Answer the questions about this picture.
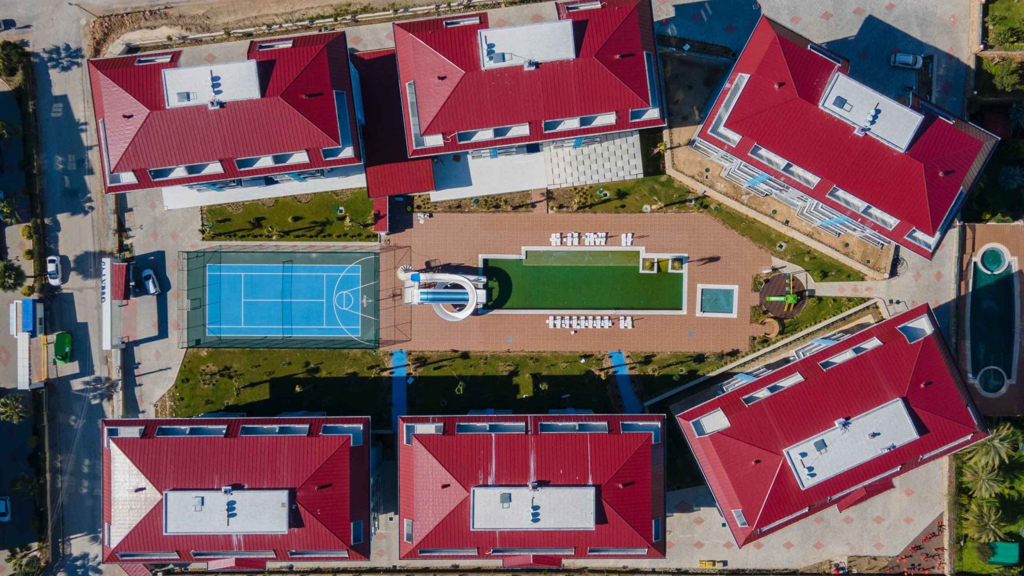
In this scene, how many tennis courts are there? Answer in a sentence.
Just 1 tennis court appears in this view.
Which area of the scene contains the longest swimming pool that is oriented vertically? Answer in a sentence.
Look in the right portion of the view to spot the longest swimming pool that is oriented vertically.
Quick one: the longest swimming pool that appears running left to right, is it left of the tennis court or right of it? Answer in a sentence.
The longest swimming pool that appears running left to right can be seen on the right of the tennis court.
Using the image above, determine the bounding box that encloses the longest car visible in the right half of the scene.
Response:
[890,54,923,69]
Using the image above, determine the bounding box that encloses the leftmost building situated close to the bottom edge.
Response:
[100,410,382,570]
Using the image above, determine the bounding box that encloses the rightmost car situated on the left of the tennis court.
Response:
[142,267,161,297]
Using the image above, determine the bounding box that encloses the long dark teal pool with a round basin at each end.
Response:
[966,242,1021,399]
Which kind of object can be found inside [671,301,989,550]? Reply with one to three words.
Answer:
building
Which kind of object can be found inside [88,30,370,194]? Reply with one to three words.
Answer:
building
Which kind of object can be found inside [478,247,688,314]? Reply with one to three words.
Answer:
swimming pool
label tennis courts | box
[188,252,379,348]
